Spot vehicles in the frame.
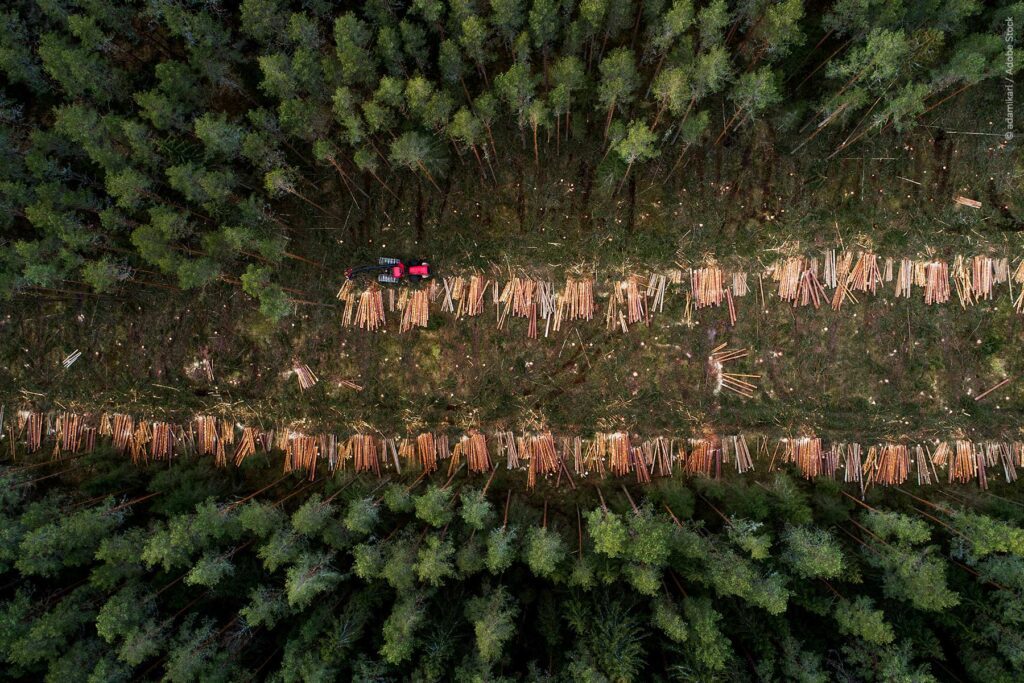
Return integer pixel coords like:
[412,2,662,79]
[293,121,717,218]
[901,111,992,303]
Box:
[344,257,432,283]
